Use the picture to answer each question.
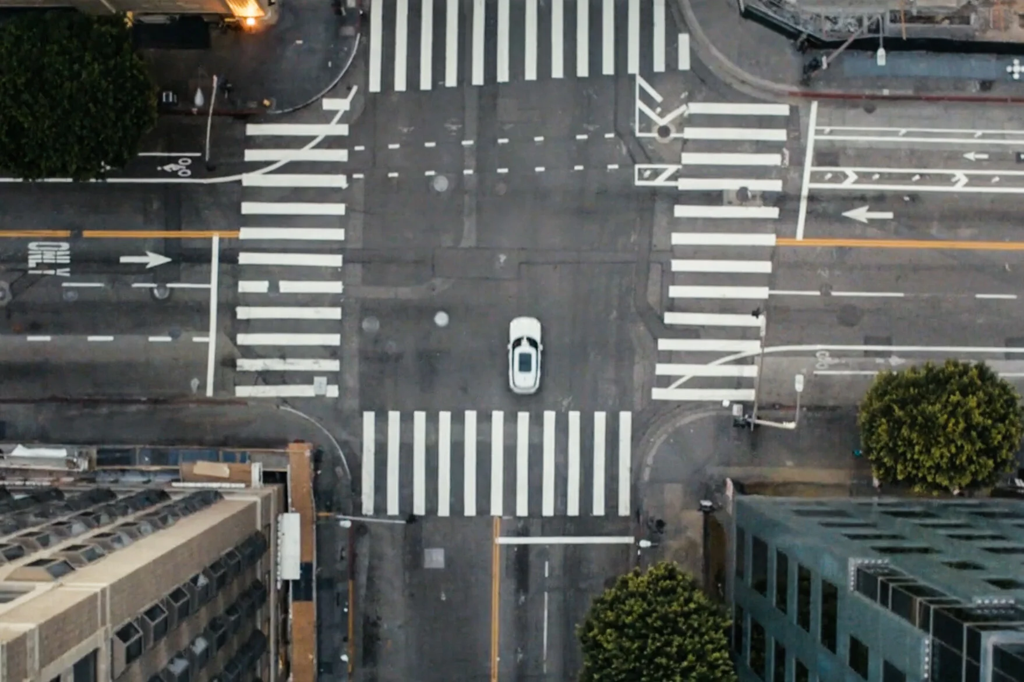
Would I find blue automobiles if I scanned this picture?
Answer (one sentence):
No, the photo shows no blue automobile.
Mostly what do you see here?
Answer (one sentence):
For the most part, this view shows paved ground.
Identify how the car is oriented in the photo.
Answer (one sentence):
The car runs from top to bottom in the image.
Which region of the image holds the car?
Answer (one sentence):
The car appears toward the center of the photo.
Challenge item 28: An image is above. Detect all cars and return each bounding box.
[507,317,544,394]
